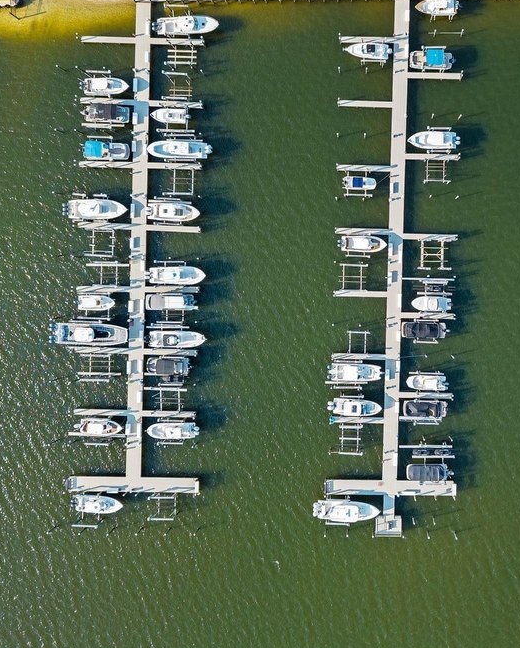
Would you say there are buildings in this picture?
No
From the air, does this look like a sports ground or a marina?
marina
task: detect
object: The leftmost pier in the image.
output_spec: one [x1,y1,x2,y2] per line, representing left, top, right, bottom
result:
[67,1,208,496]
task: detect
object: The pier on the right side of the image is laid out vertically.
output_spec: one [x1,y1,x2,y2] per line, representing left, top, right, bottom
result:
[324,0,466,540]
